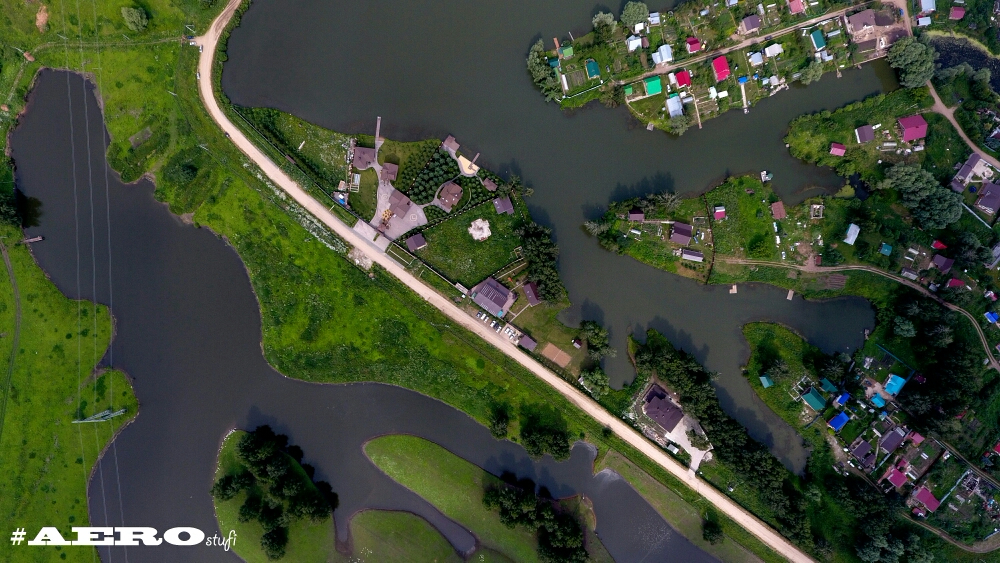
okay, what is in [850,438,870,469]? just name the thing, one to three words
house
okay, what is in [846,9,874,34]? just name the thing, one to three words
house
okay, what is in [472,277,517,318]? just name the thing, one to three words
building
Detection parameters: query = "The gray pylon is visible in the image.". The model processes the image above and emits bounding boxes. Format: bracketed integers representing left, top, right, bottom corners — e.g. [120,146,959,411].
[77,408,128,421]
